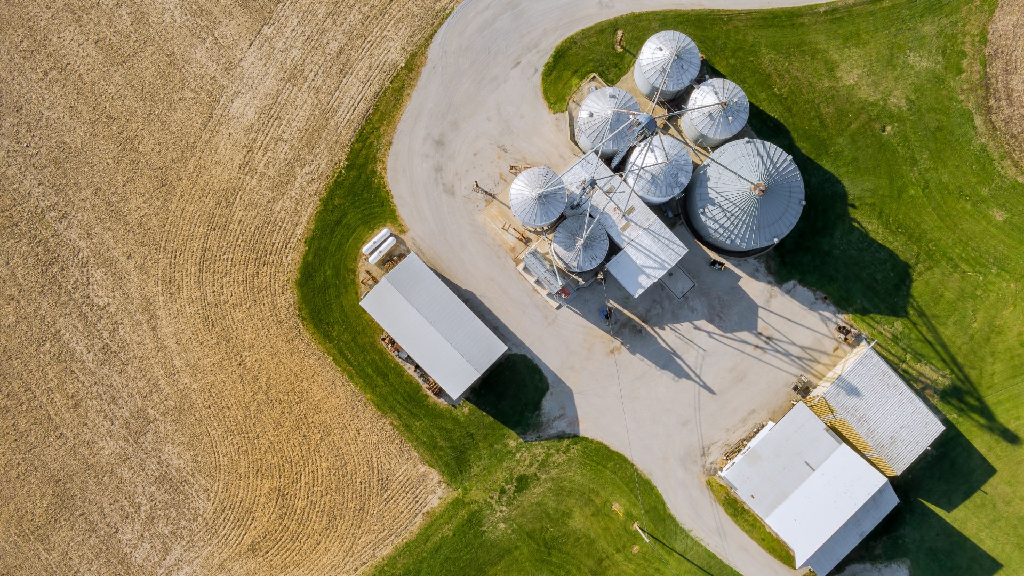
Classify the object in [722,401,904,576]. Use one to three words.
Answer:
barn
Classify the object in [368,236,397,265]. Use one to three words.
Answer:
storage tank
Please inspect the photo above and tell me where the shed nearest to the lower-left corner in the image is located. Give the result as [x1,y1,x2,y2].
[359,251,508,401]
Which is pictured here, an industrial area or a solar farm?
industrial area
